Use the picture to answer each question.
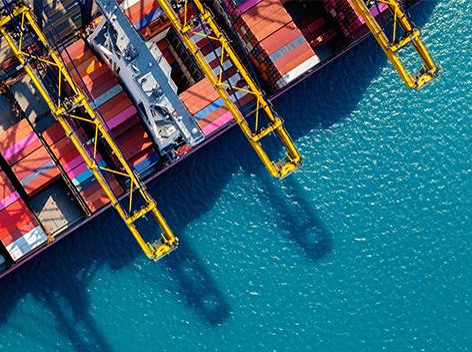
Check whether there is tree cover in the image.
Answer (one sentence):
No, no tree cover is visible.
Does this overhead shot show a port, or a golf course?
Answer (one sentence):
This looks like a port.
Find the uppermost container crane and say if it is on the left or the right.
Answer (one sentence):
You can find the uppermost container crane on the right side of the picture.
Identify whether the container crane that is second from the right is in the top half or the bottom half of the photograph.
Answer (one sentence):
You can find the container crane that is second from the right in the top half.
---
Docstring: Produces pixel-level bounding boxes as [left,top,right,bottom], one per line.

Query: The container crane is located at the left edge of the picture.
[0,0,178,257]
